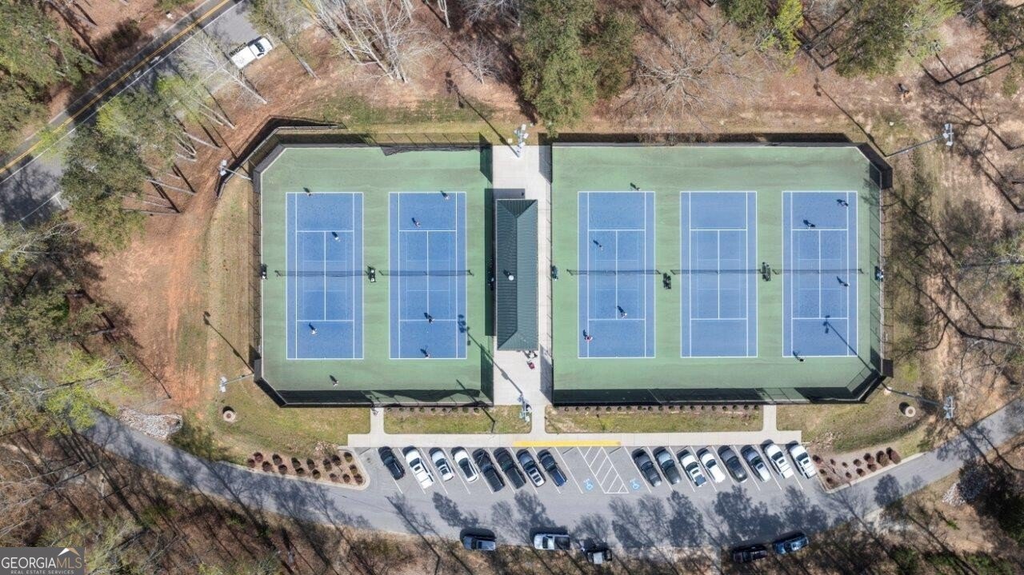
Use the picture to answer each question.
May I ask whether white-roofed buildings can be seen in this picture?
No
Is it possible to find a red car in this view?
No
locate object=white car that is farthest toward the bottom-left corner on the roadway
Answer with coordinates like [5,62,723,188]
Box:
[404,450,433,488]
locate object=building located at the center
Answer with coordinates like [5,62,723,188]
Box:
[495,199,538,351]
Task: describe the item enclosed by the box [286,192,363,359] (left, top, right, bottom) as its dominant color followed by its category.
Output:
blue tennis court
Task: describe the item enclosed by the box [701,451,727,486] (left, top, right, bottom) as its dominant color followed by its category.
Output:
white car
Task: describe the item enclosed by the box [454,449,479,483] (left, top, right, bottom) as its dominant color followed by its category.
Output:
white car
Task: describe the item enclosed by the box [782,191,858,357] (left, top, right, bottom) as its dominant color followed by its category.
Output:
blue tennis court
